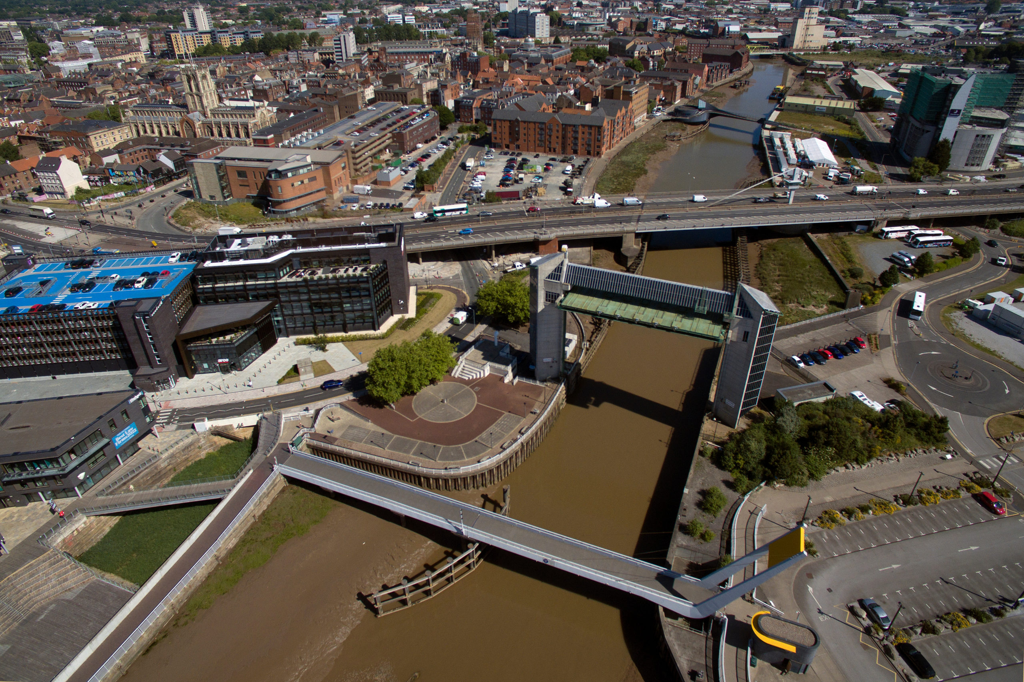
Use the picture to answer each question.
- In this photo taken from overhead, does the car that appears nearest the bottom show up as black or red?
black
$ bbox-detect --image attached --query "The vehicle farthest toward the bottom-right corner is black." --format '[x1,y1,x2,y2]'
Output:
[895,641,940,682]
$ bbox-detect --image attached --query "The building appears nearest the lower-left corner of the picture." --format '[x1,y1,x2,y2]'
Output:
[0,388,160,507]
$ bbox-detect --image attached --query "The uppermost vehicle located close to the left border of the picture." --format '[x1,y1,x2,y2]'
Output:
[26,202,57,219]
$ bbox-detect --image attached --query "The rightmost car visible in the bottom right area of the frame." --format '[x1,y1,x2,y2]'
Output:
[975,490,1004,513]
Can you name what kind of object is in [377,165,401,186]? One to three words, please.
building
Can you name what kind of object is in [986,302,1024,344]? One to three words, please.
building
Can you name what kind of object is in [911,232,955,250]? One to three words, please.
vehicle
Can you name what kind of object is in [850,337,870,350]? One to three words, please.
vehicle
